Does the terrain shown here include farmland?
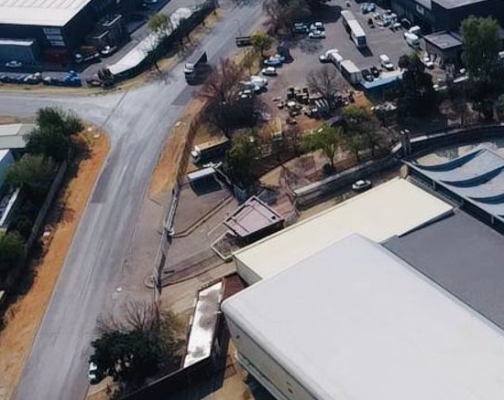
No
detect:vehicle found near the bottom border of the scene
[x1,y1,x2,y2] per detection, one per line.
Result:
[86,360,100,382]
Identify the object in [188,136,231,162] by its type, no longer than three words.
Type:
truck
